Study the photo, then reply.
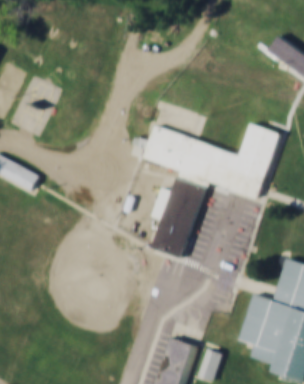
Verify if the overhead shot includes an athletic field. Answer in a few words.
Yes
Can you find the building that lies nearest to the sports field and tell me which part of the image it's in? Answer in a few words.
center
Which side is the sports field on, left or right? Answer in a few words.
left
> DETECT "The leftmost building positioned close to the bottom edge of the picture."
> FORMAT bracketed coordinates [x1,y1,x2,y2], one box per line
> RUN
[156,339,199,384]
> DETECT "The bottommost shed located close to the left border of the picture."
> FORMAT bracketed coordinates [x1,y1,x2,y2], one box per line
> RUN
[0,154,41,189]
